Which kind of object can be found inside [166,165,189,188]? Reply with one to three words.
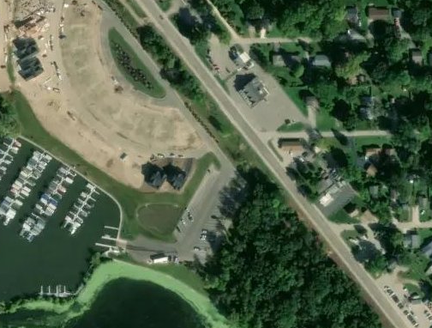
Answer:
house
